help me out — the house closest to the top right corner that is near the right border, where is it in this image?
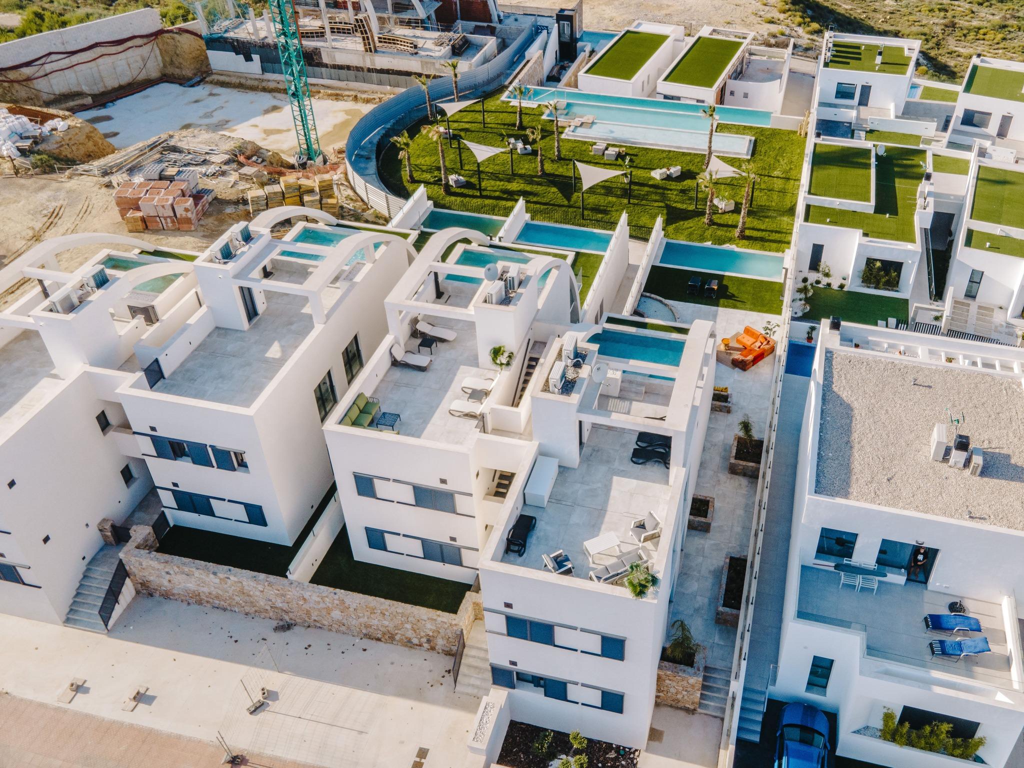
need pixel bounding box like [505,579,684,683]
[951,49,1024,147]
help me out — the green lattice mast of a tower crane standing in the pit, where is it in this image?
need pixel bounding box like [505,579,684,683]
[265,0,325,157]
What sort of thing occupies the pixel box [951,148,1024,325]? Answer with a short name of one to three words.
house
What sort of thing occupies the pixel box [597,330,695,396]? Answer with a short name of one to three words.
swimming pool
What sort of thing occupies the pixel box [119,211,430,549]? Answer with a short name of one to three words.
house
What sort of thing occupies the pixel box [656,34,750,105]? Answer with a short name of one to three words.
building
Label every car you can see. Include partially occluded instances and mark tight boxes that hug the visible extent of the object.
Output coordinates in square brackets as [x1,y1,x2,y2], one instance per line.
[773,710,837,768]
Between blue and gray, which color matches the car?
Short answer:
blue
